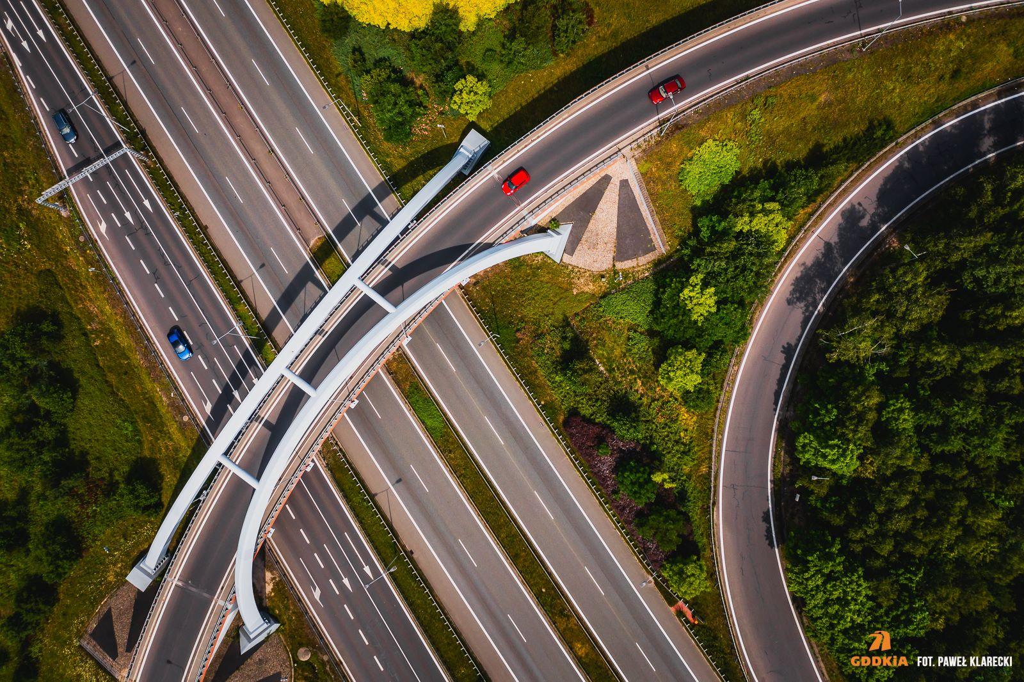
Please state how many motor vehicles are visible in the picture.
4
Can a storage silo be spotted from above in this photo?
No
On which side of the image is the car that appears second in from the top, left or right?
left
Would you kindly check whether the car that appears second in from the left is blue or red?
blue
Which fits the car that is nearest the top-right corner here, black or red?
red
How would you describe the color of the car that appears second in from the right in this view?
red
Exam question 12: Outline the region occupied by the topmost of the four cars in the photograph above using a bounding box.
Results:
[648,77,686,103]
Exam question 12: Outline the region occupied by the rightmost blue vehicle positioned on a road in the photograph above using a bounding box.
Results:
[169,328,192,359]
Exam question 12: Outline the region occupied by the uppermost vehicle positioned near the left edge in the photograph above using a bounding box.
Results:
[49,109,77,142]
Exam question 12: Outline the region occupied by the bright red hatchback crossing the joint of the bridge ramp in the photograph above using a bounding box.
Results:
[501,169,531,194]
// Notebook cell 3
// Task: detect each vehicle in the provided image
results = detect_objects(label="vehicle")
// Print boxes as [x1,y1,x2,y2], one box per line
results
[169,328,192,359]
[648,77,686,103]
[49,109,77,142]
[501,169,531,194]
